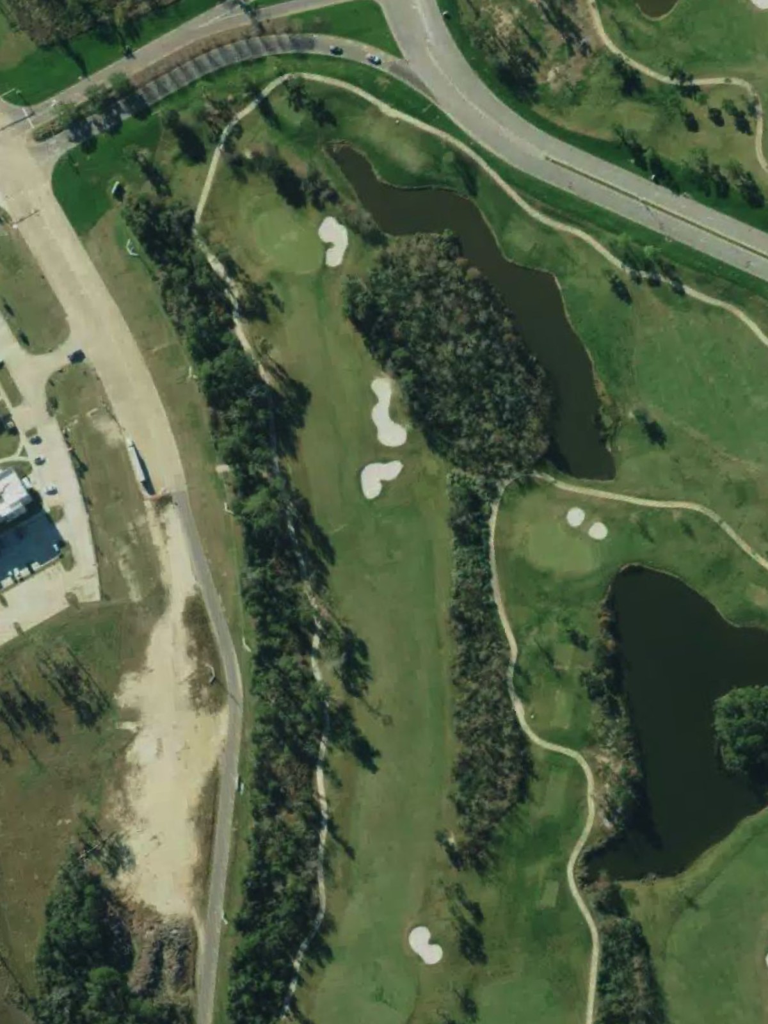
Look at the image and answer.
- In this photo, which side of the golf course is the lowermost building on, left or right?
to its left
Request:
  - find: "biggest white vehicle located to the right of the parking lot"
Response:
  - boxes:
[126,437,144,484]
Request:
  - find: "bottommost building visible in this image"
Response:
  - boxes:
[0,469,31,521]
